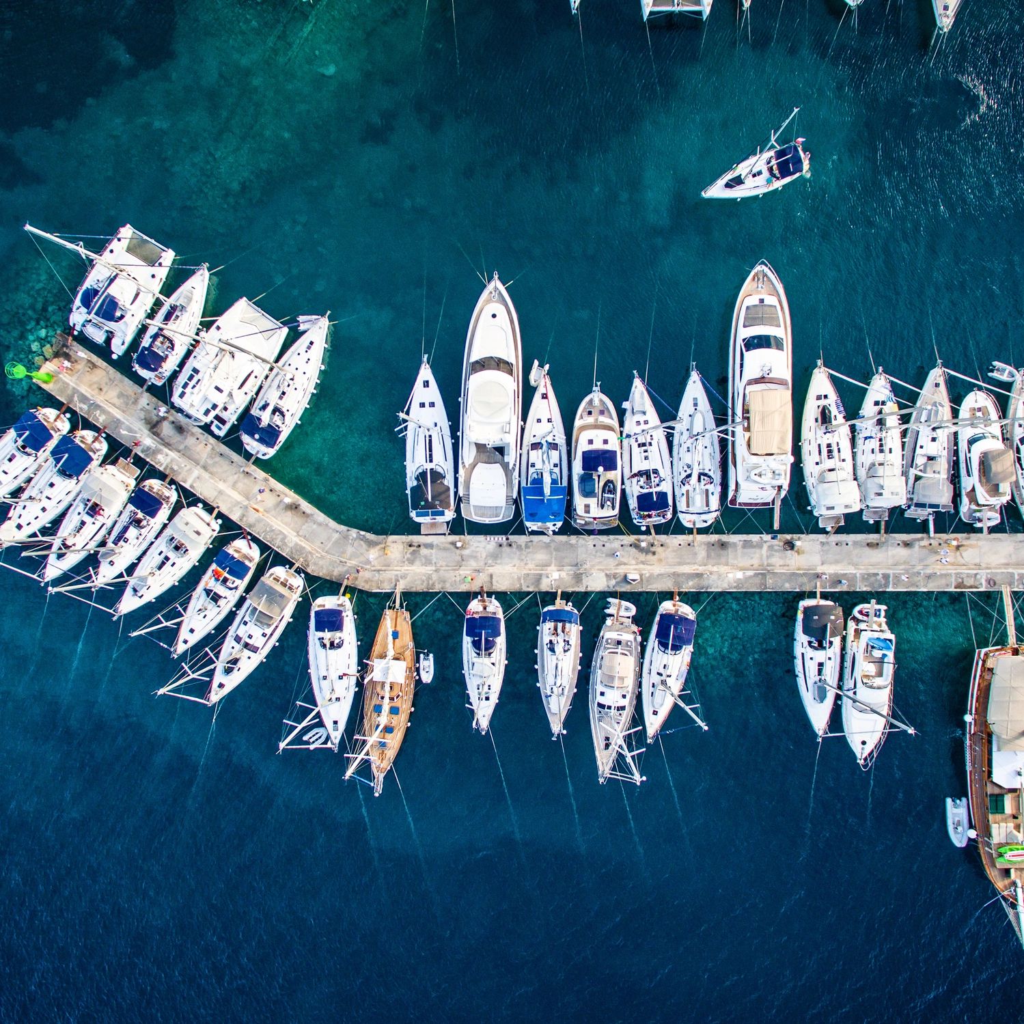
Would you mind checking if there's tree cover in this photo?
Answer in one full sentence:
No, tree cover can't be seen anywhere here.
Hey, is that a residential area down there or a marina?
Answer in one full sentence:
This image shows a marina.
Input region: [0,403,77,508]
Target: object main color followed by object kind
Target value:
white boat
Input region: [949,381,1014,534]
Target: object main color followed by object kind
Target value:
white boat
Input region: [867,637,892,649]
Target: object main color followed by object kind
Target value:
blue boat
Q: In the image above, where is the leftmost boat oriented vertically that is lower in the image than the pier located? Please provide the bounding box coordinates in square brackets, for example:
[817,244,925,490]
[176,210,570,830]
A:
[278,576,363,755]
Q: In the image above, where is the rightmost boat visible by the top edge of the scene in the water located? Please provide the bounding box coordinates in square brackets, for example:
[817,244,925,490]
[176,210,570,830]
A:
[923,0,962,62]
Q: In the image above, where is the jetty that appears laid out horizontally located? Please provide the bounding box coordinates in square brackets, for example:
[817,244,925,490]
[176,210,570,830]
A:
[33,332,1024,591]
